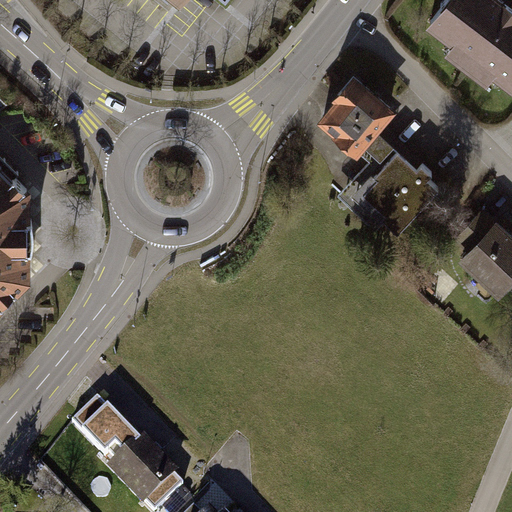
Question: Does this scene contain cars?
Yes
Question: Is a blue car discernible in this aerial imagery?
Yes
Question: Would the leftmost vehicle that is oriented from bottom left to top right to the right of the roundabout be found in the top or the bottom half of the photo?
top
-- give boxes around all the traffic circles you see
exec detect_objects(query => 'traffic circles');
[106,110,243,246]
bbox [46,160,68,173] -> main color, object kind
black vehicle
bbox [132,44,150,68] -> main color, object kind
black car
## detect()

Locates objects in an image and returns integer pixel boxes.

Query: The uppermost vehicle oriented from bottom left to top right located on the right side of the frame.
[400,118,422,143]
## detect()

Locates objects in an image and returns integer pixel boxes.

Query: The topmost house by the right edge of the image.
[428,0,512,96]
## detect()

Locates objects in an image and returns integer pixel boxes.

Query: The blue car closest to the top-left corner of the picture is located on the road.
[66,98,86,118]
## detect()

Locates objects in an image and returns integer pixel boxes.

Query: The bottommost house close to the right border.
[460,231,512,304]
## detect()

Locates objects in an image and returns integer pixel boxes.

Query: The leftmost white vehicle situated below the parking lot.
[105,97,126,114]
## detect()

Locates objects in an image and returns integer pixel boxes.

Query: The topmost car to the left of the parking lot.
[10,24,30,44]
